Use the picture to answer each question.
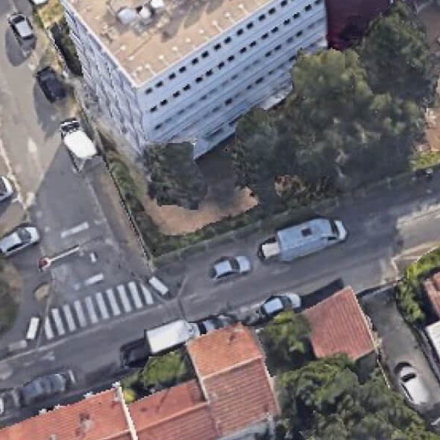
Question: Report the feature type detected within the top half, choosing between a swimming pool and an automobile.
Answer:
automobile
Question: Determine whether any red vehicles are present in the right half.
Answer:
No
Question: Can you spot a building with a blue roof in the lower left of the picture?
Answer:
No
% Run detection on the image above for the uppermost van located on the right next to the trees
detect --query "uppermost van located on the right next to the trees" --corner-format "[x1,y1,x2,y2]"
[266,218,341,264]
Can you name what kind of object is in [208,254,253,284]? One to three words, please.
car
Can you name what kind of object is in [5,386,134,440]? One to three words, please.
house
